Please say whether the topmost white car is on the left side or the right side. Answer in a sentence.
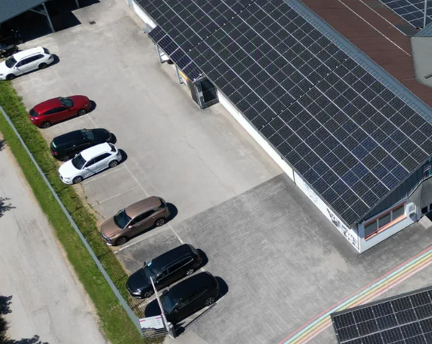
The topmost white car is on the left side of the image.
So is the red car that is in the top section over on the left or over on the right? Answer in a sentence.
The red car that is in the top section appears in the left half of the scene.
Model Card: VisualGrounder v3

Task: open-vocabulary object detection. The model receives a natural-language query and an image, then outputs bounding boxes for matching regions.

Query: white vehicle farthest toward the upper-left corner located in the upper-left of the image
[0,46,52,81]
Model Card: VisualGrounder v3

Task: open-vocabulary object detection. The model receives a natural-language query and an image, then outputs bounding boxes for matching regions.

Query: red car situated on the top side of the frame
[29,97,89,129]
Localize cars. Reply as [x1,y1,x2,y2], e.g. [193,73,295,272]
[46,127,112,163]
[60,145,122,184]
[124,246,203,302]
[100,198,171,247]
[29,97,89,129]
[0,46,52,81]
[144,274,223,332]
